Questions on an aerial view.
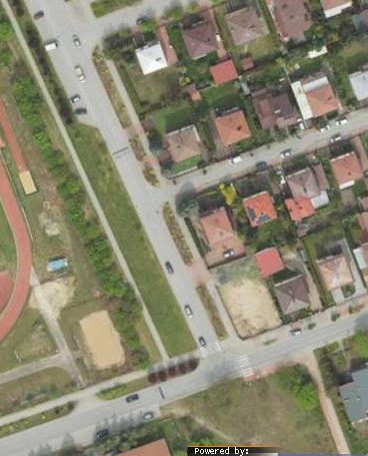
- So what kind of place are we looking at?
residential area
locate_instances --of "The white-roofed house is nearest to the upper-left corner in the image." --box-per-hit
[136,40,170,74]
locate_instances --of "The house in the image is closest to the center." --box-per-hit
[200,208,237,245]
